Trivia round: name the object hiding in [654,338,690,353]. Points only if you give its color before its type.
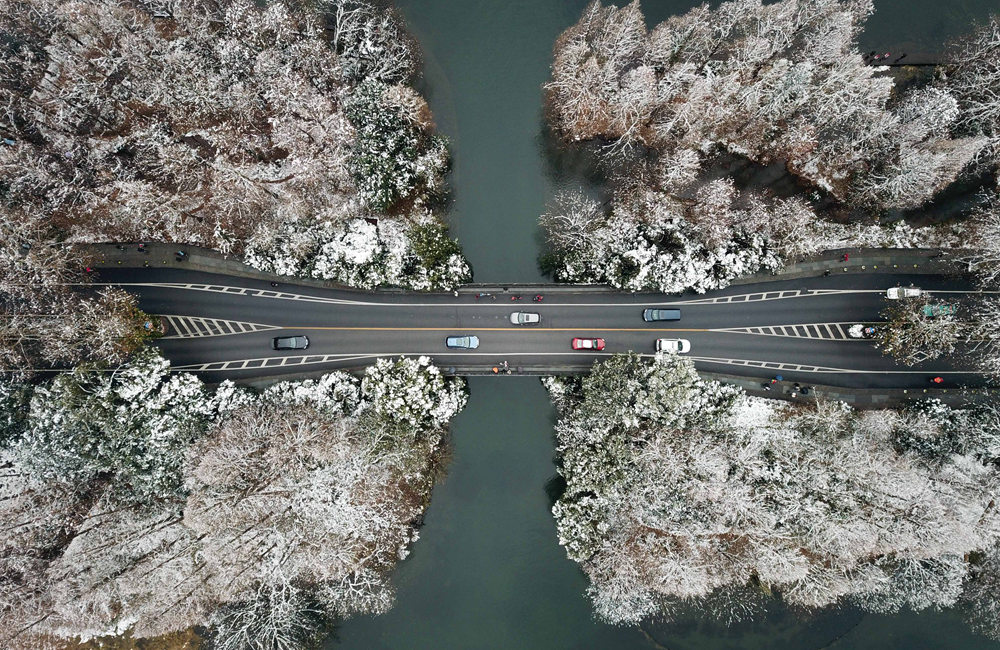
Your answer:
white car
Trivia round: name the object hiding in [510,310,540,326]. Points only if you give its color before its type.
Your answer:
white car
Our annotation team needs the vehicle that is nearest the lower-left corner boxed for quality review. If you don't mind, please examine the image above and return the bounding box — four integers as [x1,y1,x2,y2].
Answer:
[273,335,311,350]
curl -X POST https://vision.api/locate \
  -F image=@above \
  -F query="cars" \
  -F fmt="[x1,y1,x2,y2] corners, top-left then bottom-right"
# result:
[273,335,311,350]
[510,310,540,326]
[654,338,690,353]
[446,334,480,350]
[883,286,923,301]
[571,336,604,352]
[642,305,683,323]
